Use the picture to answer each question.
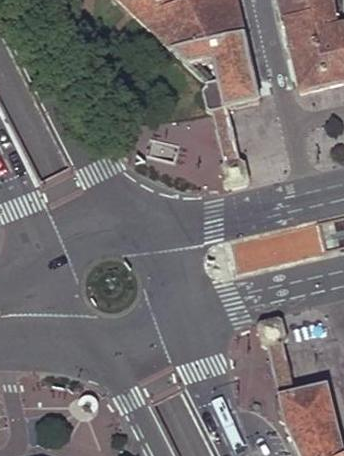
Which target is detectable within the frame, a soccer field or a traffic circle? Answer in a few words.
traffic circle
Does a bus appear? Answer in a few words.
Yes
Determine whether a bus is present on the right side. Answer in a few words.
Yes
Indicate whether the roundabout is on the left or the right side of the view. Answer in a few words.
left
